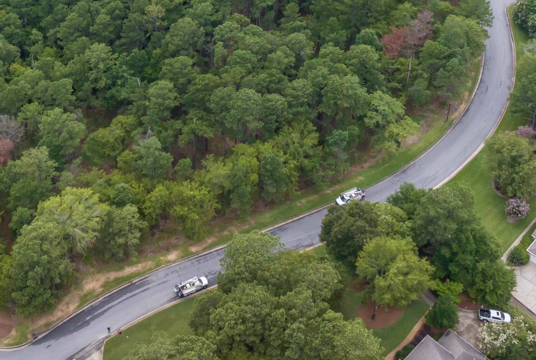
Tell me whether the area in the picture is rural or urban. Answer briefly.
rural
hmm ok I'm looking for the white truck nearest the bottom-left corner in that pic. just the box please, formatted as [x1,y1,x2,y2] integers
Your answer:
[170,275,210,300]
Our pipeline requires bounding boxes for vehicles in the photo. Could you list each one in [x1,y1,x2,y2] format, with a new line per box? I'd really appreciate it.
[170,275,210,300]
[334,184,367,206]
[477,307,512,324]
